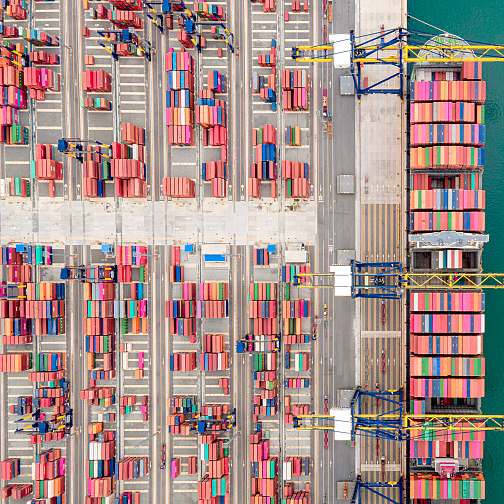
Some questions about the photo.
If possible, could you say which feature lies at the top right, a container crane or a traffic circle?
container crane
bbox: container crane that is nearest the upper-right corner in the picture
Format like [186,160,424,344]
[291,23,504,102]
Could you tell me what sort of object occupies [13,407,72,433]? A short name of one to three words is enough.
crane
